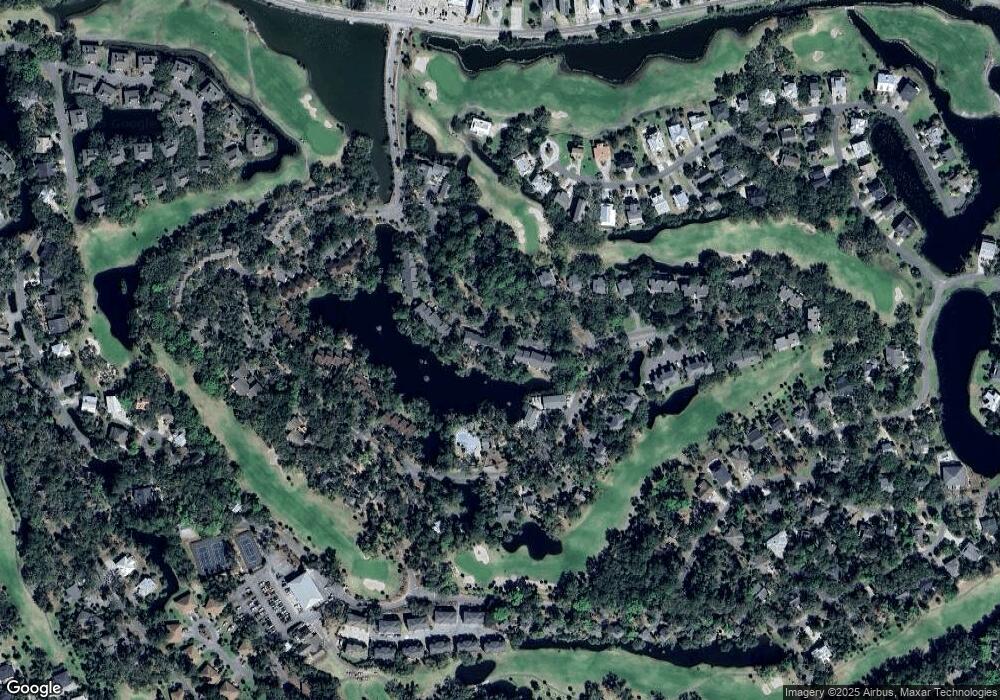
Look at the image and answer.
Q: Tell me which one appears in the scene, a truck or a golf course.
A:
golf course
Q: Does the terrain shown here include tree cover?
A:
Yes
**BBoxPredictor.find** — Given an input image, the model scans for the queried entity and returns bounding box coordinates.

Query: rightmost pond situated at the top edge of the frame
[427,0,1000,275]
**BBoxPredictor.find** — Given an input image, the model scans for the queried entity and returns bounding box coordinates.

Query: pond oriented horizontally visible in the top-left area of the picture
[76,108,161,141]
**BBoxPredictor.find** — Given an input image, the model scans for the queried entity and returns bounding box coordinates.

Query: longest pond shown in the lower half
[521,636,785,667]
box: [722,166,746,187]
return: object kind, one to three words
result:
house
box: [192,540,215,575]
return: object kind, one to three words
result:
tennis court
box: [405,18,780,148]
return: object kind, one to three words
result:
golf course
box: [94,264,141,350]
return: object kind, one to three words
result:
pond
